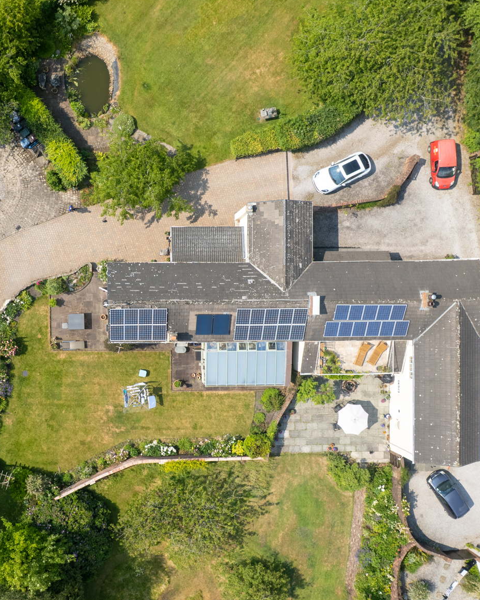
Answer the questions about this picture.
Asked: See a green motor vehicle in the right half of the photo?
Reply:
No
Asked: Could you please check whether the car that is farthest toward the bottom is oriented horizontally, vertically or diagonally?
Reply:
diagonally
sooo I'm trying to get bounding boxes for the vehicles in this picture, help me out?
[311,151,373,197]
[423,465,473,521]
[426,136,460,194]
